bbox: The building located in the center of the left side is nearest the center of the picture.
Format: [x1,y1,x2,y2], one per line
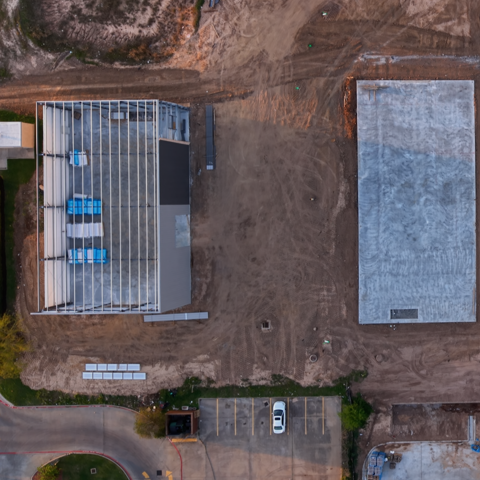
[29,98,192,315]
